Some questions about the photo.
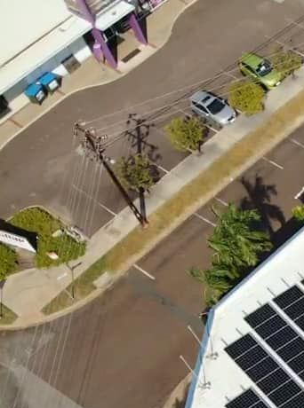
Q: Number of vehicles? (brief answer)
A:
2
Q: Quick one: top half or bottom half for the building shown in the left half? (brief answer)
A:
top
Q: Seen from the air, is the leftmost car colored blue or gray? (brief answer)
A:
gray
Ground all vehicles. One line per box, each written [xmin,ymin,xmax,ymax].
[184,85,240,130]
[232,50,286,94]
